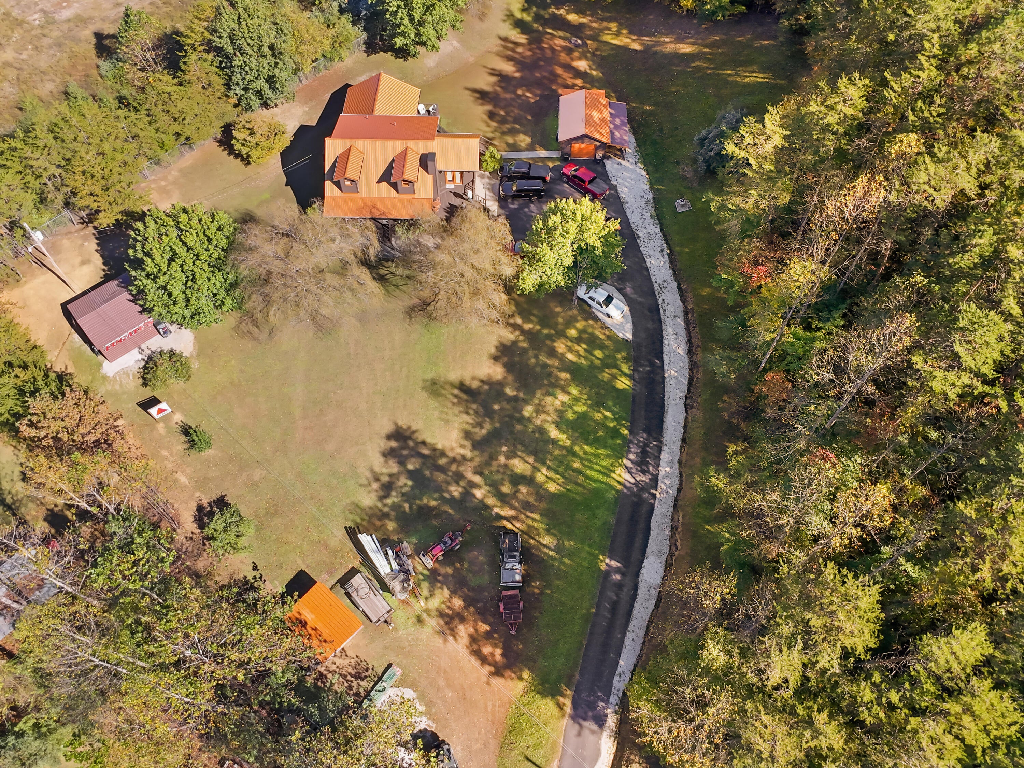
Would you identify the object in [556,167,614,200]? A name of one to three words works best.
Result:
truck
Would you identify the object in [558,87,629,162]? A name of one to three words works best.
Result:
building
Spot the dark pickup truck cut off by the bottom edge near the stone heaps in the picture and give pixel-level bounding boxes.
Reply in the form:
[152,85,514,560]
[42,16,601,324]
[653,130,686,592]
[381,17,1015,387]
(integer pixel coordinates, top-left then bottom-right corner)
[426,731,469,768]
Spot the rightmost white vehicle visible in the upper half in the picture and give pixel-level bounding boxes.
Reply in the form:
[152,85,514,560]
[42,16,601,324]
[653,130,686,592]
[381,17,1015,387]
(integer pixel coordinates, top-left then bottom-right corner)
[573,280,629,316]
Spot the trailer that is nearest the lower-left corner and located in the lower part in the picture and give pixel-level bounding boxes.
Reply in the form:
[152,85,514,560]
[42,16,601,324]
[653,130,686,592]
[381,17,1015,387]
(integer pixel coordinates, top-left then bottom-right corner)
[344,572,395,627]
